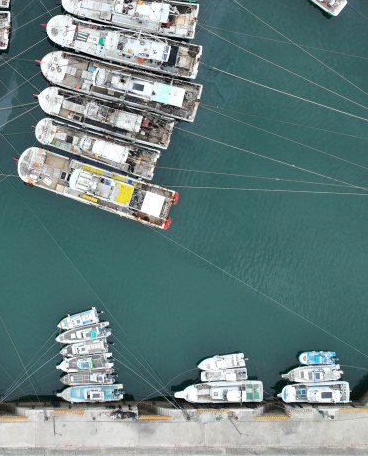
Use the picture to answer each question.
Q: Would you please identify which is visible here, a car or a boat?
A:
boat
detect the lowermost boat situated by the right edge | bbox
[278,380,350,406]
